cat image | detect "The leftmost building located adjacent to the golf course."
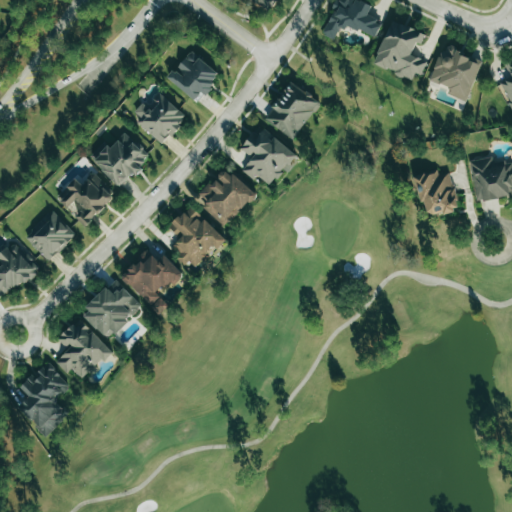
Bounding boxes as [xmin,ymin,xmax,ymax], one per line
[19,364,68,434]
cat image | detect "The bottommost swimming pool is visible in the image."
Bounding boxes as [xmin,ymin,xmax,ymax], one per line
[92,354,118,386]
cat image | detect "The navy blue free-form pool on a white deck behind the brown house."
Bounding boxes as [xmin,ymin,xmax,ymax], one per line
[56,156,99,194]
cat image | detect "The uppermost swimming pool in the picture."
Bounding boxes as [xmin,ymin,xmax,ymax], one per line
[337,28,370,46]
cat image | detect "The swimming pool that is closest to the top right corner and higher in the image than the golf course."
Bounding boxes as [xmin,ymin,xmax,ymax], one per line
[430,80,467,110]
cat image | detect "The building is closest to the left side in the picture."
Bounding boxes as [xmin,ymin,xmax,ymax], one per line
[0,241,38,291]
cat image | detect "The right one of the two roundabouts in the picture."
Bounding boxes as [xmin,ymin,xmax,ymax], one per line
[470,219,512,264]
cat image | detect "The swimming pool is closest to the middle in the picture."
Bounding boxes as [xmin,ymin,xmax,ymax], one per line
[163,282,182,300]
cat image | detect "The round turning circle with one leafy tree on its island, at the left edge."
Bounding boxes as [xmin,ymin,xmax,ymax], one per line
[0,308,42,358]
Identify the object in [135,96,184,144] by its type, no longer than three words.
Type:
house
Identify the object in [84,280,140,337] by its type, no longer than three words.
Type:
house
